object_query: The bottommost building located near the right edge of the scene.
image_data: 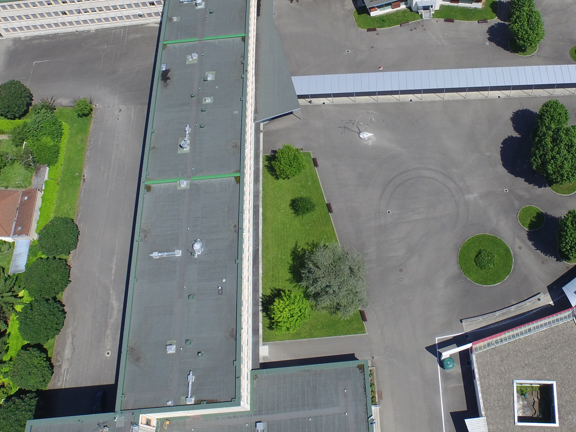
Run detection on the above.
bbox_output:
[470,307,576,432]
